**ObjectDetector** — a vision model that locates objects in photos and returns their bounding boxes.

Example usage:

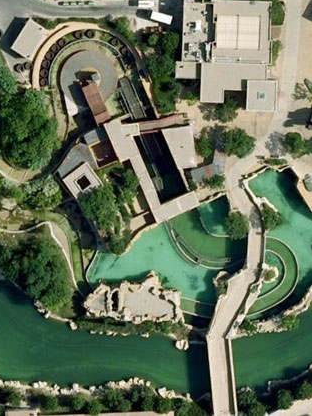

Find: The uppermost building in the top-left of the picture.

[10,18,48,59]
